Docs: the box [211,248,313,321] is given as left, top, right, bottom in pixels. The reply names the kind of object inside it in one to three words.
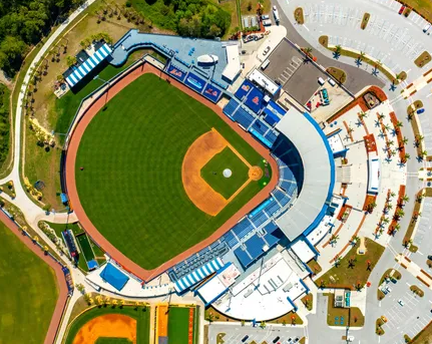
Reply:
building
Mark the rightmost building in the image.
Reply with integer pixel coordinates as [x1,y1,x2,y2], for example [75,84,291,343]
[366,158,379,194]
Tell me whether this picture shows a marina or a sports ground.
sports ground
